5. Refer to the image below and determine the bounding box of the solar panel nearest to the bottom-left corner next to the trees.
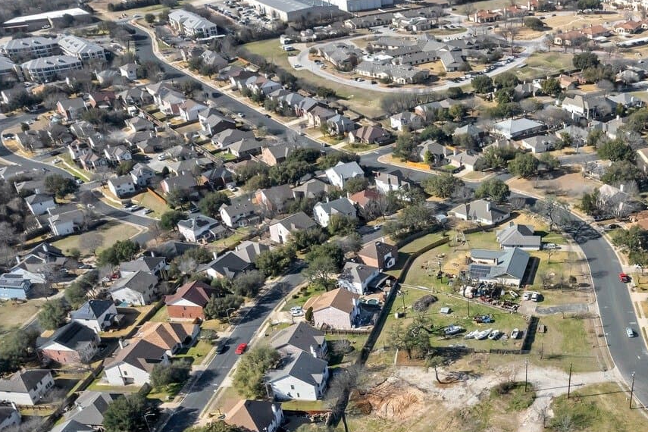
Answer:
[60,325,88,346]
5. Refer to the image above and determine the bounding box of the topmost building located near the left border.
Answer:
[4,8,94,33]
